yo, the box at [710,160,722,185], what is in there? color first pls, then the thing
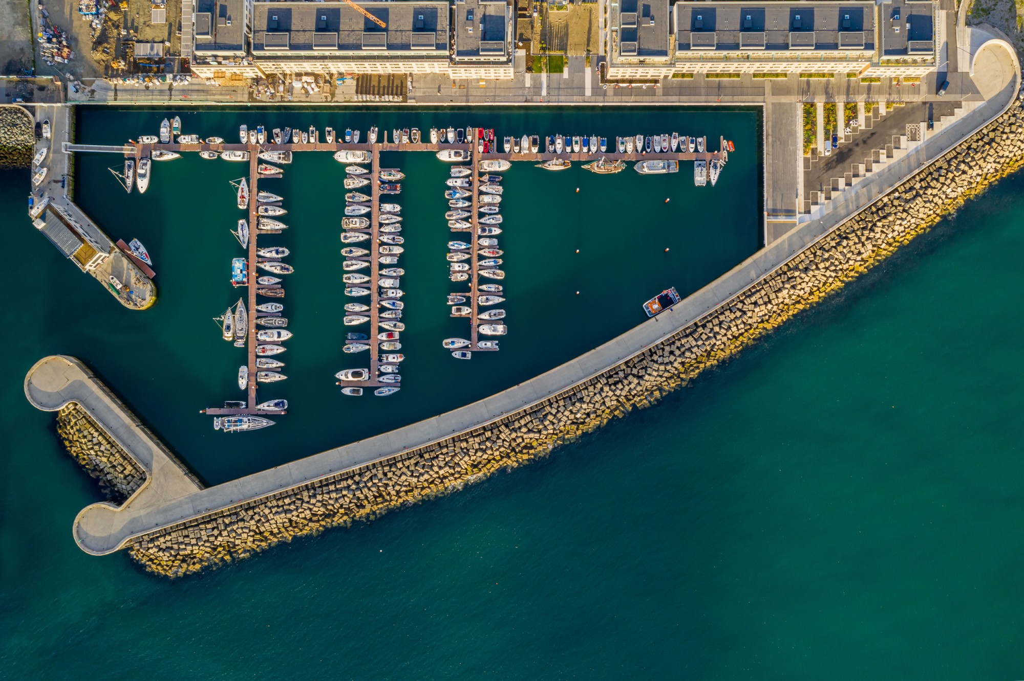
white boat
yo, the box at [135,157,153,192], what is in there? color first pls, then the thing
white boat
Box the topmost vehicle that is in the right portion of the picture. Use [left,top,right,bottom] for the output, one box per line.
[936,80,949,97]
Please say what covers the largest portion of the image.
water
